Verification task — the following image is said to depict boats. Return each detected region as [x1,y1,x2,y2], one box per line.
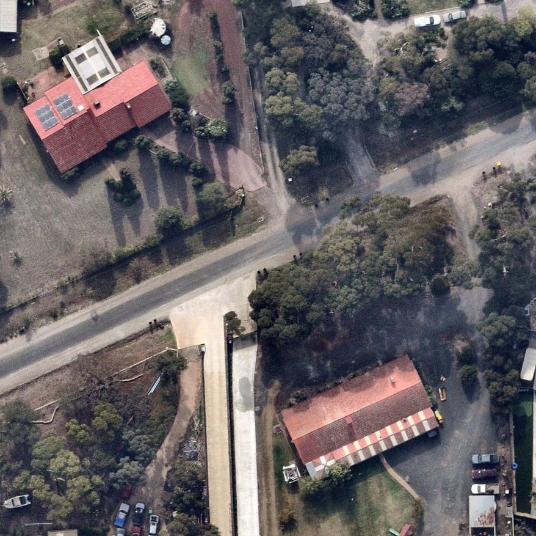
[1,494,32,506]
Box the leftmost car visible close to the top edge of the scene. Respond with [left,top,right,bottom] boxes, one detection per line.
[413,14,441,26]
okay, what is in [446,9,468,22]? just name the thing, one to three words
vehicle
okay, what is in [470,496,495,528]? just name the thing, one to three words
shed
